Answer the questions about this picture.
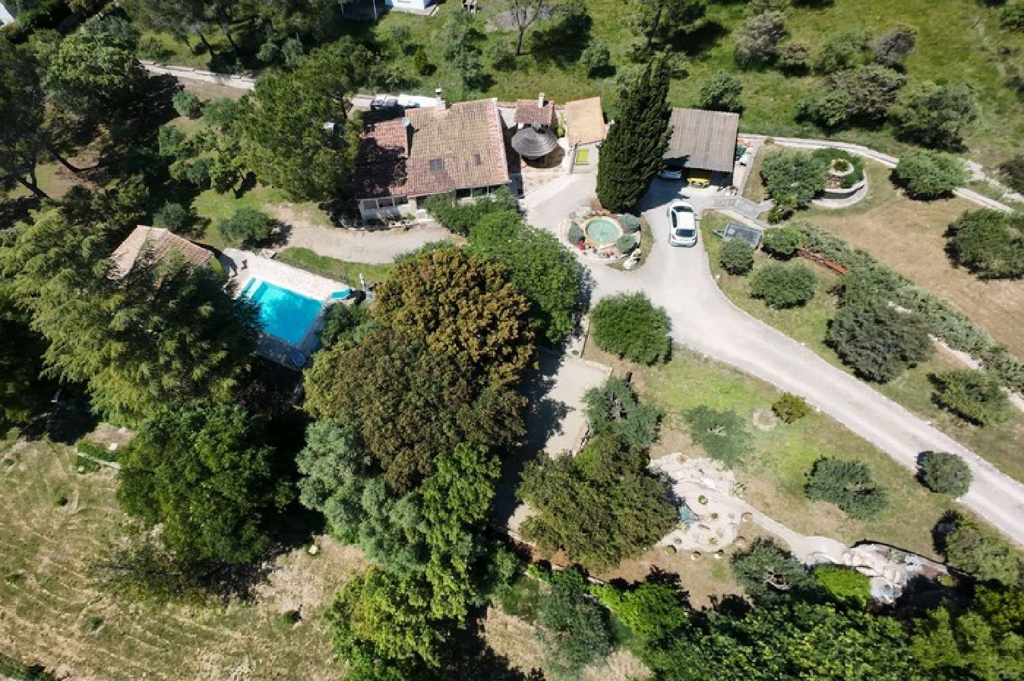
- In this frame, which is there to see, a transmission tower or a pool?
pool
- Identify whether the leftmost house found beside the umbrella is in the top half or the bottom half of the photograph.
top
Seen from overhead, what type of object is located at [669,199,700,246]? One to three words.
car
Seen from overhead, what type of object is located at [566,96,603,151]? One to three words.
shed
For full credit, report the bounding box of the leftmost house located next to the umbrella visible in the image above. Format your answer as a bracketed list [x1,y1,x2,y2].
[407,87,515,239]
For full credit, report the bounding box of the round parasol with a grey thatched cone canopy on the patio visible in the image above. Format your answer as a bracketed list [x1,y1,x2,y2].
[511,129,558,171]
